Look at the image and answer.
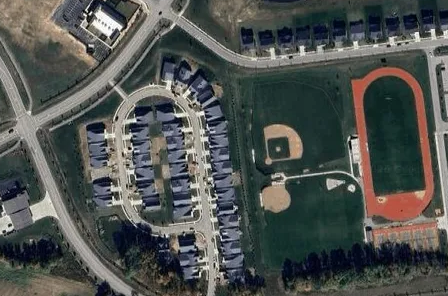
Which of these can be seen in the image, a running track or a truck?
running track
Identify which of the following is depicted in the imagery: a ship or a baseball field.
baseball field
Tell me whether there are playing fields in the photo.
Yes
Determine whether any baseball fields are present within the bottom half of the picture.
Yes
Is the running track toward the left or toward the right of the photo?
right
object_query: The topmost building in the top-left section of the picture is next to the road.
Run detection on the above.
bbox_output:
[90,0,136,38]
